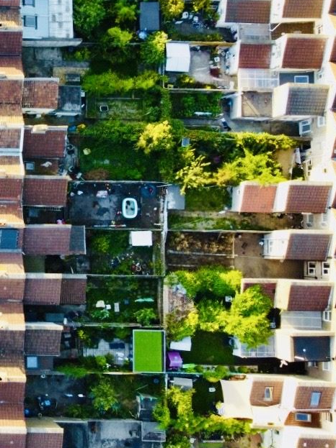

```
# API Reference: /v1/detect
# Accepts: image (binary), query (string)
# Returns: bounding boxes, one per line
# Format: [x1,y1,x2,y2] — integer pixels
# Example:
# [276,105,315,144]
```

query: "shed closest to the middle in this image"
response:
[165,184,186,209]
